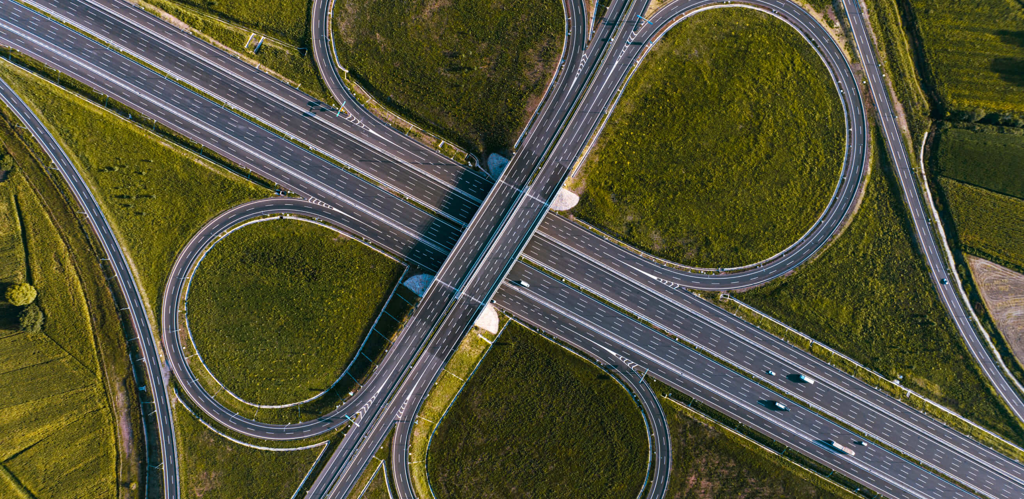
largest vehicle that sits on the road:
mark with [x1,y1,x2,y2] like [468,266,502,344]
[832,442,857,457]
